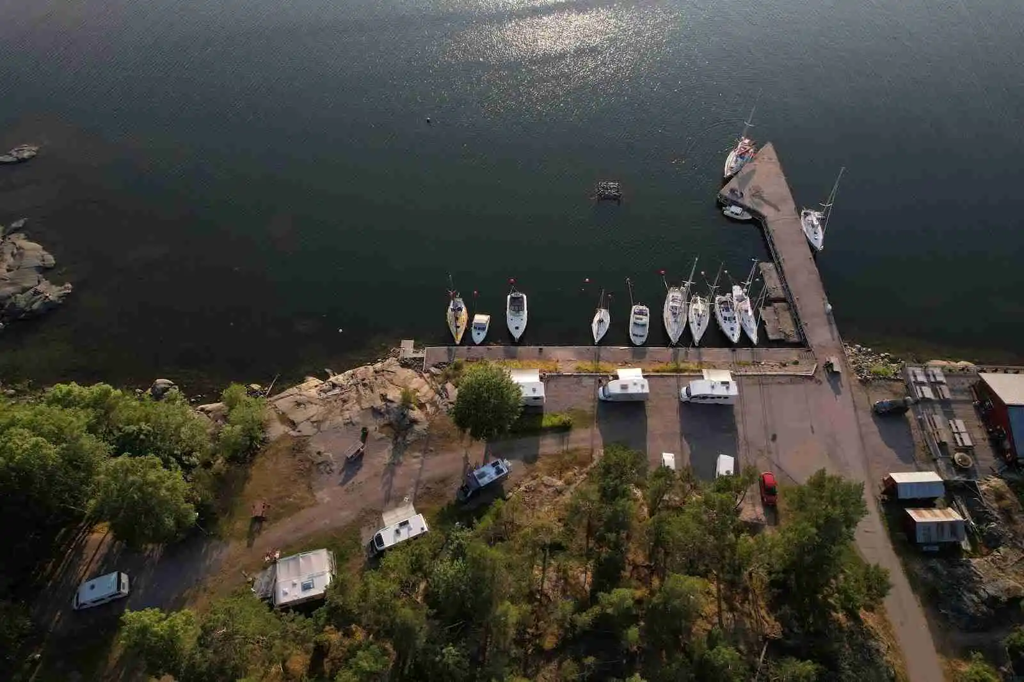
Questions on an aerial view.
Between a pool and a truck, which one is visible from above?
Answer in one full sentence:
It is a truck that can be seen here.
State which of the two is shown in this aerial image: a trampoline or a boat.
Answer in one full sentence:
The image shows a boat.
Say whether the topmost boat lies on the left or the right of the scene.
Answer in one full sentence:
The topmost boat appears in the right half of the scene.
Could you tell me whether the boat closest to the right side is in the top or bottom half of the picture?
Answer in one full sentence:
You can find the boat closest to the right side in the top half.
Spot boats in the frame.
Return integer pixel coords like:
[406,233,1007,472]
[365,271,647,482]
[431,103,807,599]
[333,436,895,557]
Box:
[712,259,758,345]
[629,298,650,346]
[592,289,609,345]
[796,167,844,251]
[732,284,768,346]
[443,274,468,346]
[725,105,756,180]
[471,314,490,346]
[721,203,751,223]
[660,258,698,345]
[505,284,528,343]
[687,263,724,347]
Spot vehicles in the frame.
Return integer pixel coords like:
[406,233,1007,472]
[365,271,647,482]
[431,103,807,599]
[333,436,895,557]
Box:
[658,451,677,496]
[712,455,735,485]
[678,366,739,407]
[599,365,650,406]
[758,474,779,506]
[372,502,432,559]
[868,399,910,420]
[455,455,514,506]
[504,368,545,408]
[74,573,131,611]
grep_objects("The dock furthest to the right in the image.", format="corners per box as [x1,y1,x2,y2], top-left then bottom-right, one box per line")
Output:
[718,144,846,362]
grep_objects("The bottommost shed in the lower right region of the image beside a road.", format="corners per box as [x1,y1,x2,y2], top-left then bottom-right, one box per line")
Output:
[901,507,966,546]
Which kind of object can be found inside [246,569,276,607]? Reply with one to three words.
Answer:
tent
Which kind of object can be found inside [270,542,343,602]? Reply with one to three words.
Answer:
camper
